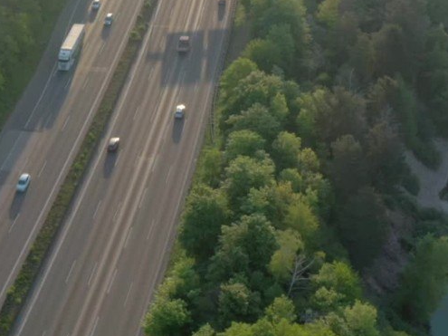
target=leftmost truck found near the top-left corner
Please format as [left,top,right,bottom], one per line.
[58,25,85,71]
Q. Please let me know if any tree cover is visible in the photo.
Yes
